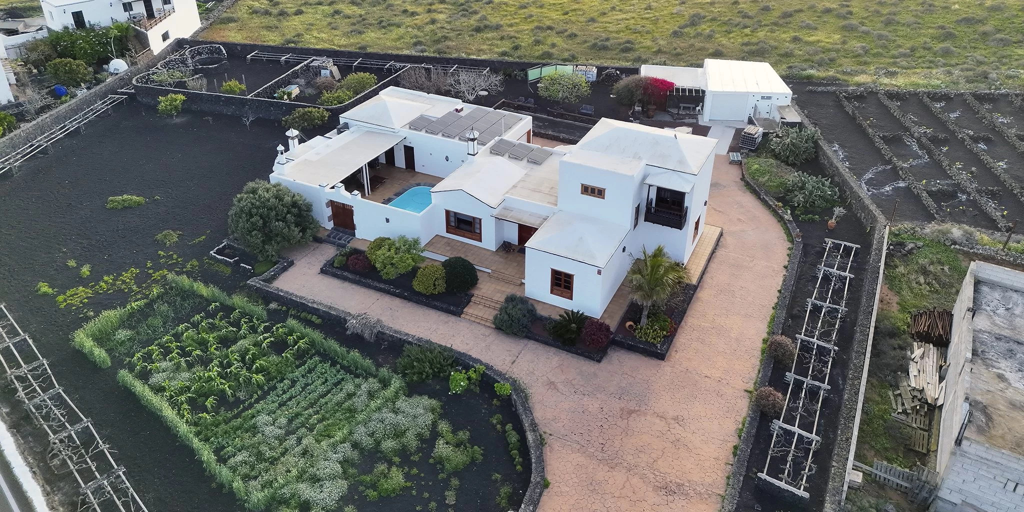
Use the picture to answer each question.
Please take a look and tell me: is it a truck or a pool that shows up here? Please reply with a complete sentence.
Of the two, only a pool appears.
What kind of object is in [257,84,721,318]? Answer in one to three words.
house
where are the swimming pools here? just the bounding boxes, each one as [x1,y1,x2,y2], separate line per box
[381,182,439,236]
